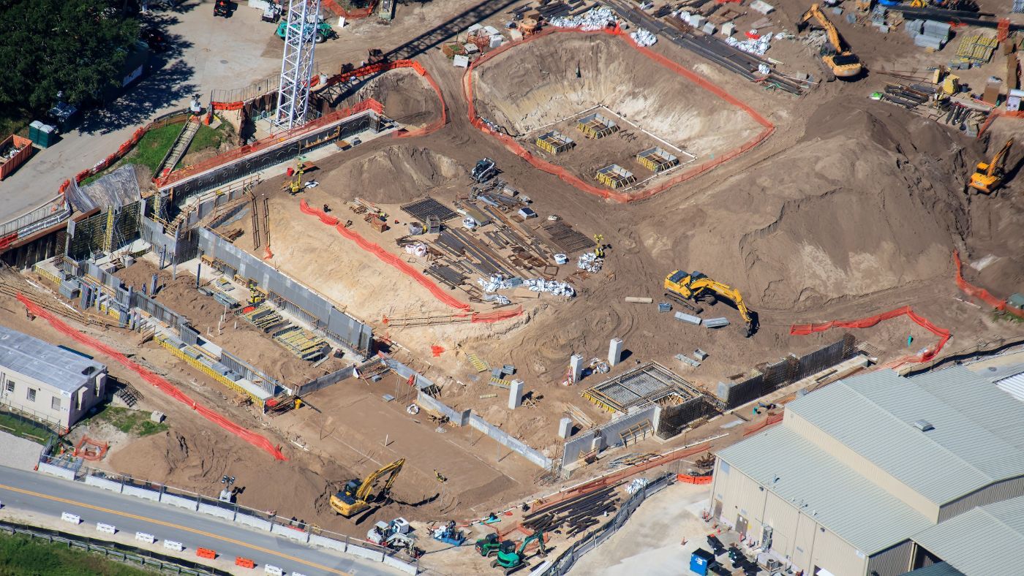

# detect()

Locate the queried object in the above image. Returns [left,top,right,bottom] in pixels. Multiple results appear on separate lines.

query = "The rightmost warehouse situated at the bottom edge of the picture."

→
[708,358,1024,576]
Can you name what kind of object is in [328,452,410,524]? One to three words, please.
work vehicle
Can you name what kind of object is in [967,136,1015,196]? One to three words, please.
work vehicle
